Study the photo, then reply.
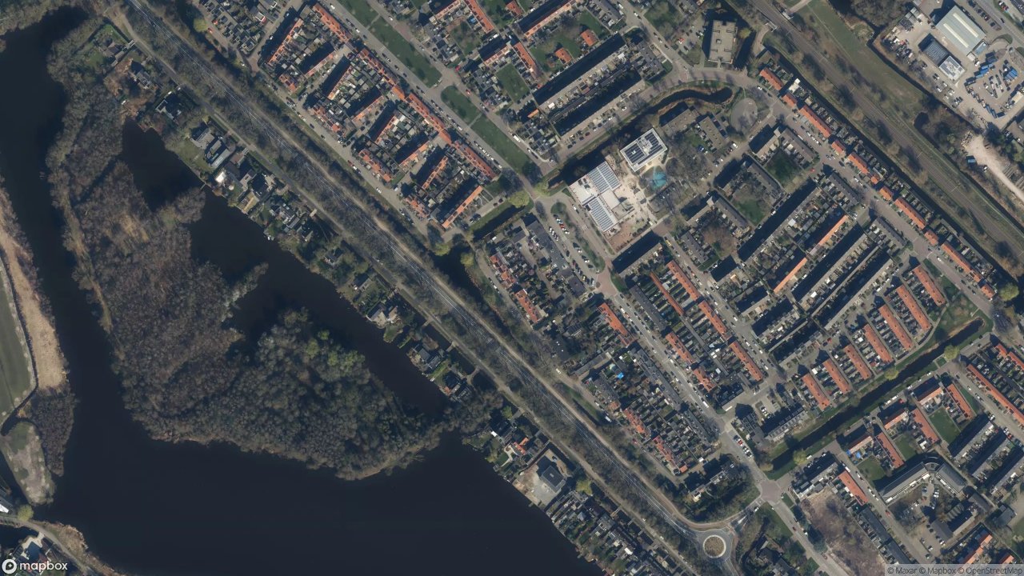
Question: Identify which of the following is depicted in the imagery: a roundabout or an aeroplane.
roundabout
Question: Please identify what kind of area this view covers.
residential area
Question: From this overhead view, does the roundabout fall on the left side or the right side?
right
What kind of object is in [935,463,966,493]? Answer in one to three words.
house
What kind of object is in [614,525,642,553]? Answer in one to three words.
house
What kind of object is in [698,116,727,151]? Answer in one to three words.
building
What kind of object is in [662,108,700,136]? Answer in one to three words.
building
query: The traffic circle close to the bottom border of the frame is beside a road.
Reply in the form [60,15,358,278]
[677,516,747,567]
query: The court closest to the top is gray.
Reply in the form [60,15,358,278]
[731,98,758,132]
